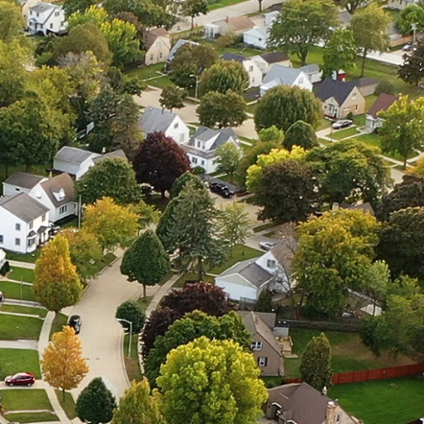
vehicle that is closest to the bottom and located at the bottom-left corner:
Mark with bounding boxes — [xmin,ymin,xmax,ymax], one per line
[5,367,38,384]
